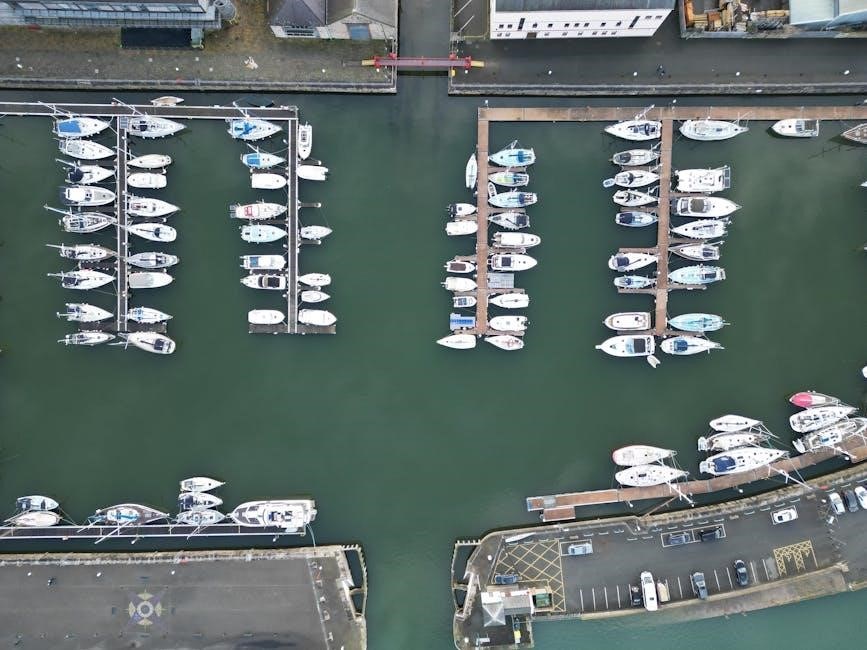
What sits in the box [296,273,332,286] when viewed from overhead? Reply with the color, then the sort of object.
white boat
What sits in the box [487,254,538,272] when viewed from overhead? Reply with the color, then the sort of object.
white boat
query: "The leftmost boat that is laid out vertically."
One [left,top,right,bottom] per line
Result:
[298,121,312,160]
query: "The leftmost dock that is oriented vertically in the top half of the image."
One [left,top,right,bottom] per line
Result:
[76,118,168,335]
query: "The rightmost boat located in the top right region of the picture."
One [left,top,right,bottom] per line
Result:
[841,124,867,145]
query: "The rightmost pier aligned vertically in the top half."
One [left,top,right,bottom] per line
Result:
[616,121,706,339]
